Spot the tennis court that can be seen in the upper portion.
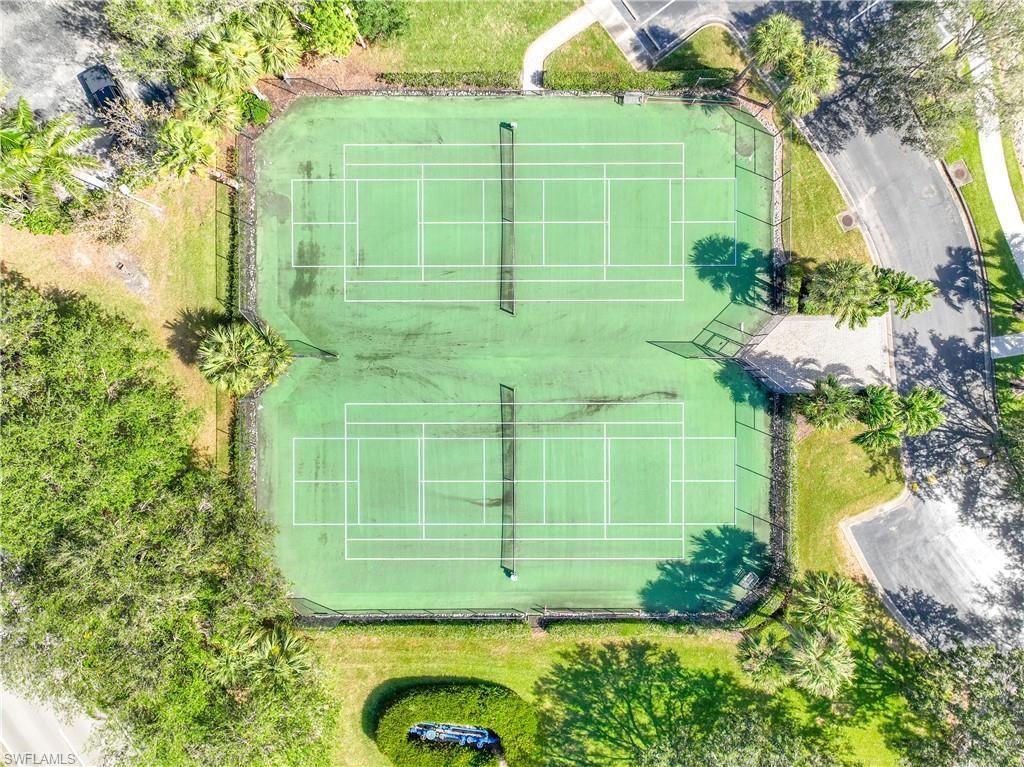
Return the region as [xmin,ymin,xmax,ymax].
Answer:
[256,95,773,356]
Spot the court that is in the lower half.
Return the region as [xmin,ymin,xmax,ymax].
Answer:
[256,356,773,614]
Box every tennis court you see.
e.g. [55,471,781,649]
[256,356,773,614]
[256,95,773,356]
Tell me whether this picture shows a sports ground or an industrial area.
sports ground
